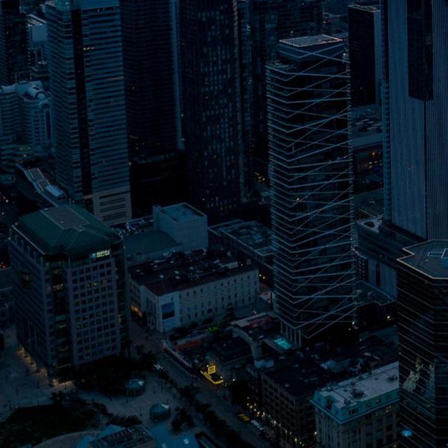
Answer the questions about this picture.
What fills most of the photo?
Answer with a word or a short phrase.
buildings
